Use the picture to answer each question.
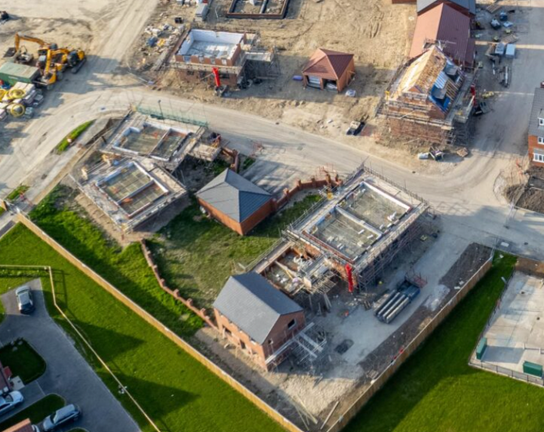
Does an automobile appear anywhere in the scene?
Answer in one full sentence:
Yes, the photo shows an automobile.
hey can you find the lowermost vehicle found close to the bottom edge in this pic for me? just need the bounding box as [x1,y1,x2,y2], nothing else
[37,399,83,430]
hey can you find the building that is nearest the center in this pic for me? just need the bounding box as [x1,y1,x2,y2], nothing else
[196,169,274,233]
